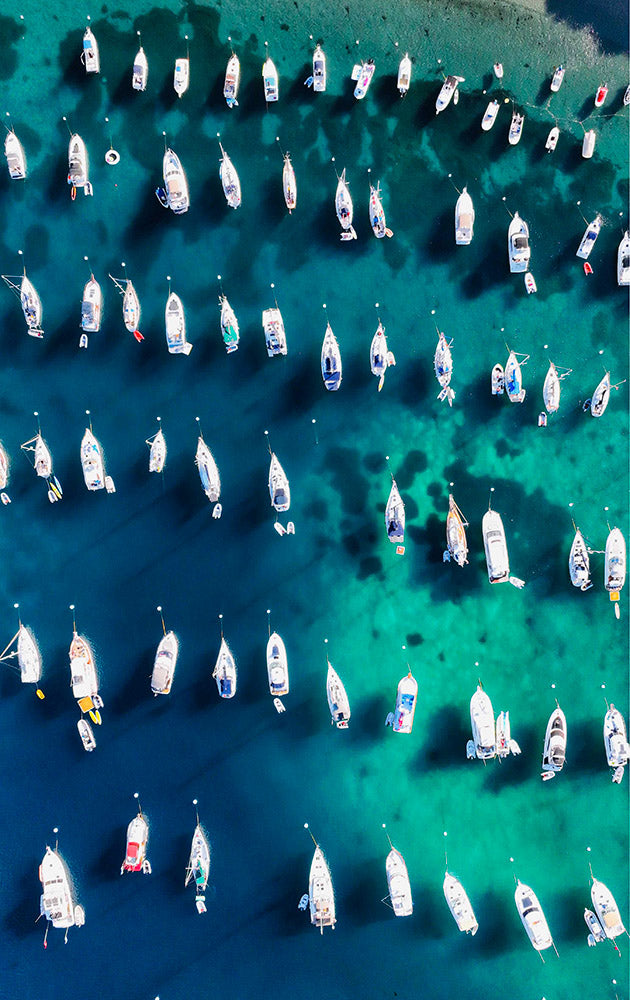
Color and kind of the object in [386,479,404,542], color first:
white boat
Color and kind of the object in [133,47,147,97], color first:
white boat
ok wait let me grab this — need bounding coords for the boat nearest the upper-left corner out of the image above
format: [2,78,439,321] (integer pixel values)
[82,27,101,76]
